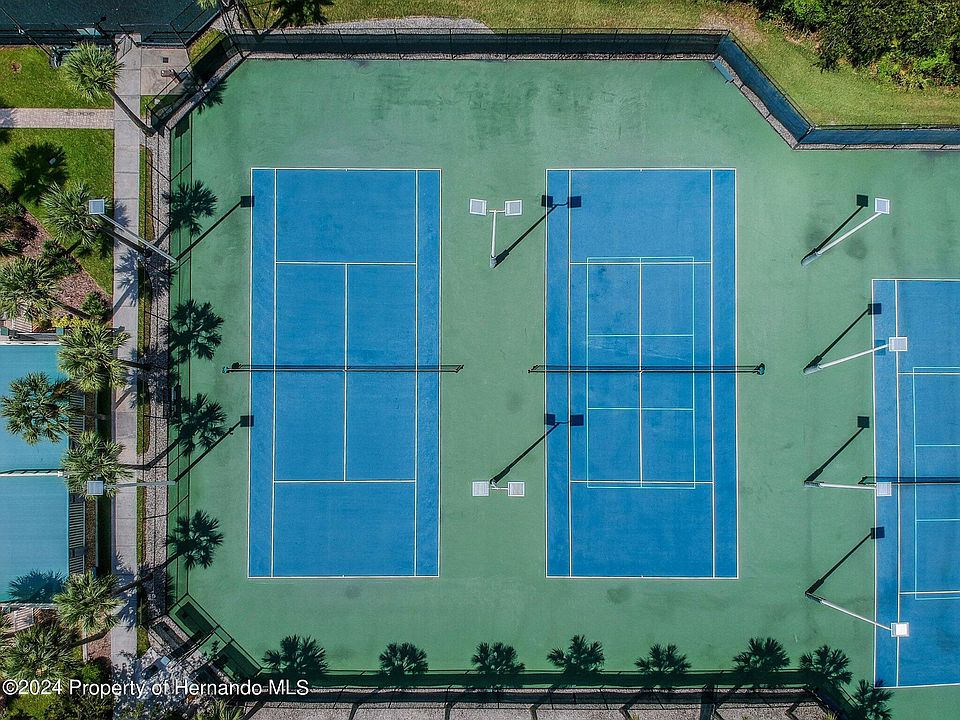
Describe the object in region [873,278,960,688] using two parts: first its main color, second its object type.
blue tennis court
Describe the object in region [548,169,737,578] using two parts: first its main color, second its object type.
blue tennis court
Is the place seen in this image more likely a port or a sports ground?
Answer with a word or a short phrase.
sports ground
